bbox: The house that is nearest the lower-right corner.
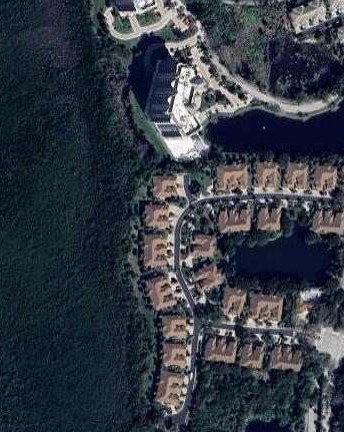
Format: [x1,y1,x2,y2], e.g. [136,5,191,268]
[268,346,302,370]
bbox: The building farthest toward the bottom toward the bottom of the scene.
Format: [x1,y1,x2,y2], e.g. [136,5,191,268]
[155,368,186,403]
